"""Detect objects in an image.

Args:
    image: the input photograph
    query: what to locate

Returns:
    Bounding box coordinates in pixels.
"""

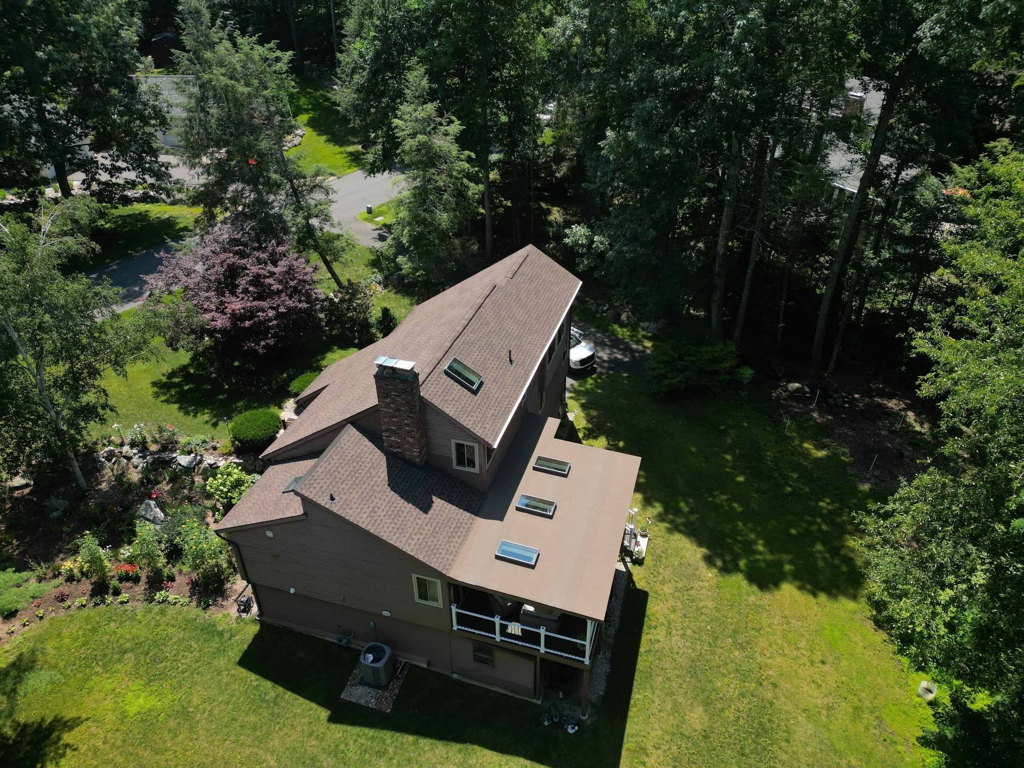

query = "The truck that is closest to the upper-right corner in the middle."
[568,322,598,375]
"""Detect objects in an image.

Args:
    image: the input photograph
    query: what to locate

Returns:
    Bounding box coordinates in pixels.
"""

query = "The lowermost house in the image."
[211,244,644,714]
